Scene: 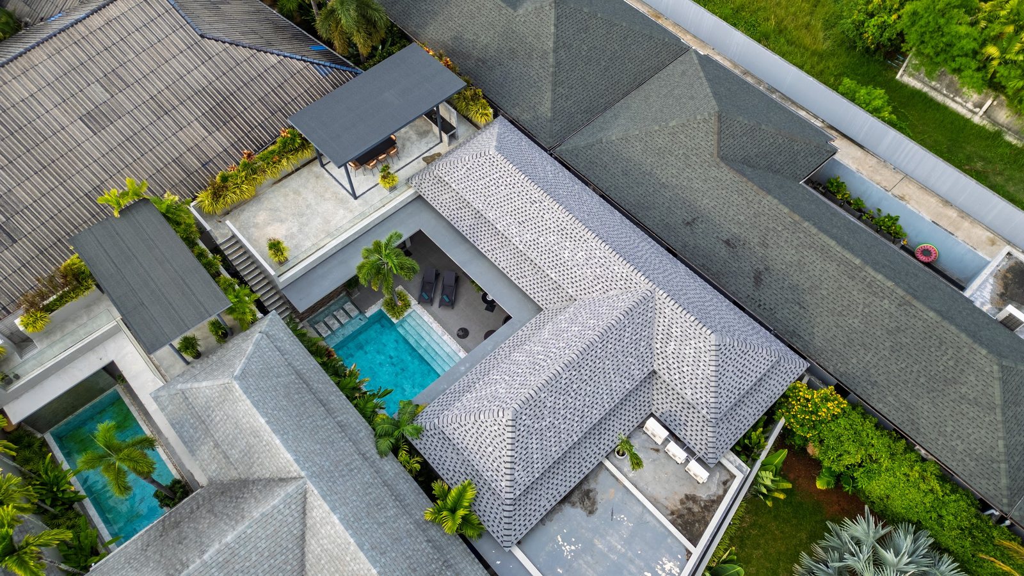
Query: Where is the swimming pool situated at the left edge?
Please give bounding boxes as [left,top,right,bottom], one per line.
[43,379,201,556]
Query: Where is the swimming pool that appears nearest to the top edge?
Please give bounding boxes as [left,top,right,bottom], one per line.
[304,271,469,411]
